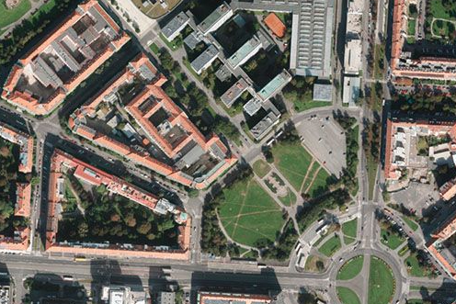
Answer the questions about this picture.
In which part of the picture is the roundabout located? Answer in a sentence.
The roundabout is in the bottom right part of the image.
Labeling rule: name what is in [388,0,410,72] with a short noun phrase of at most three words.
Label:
building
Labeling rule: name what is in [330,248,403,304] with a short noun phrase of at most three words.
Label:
roundabout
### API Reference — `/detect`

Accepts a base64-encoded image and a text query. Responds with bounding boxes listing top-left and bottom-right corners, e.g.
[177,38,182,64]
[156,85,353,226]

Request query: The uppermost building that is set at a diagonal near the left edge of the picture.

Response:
[5,0,133,116]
